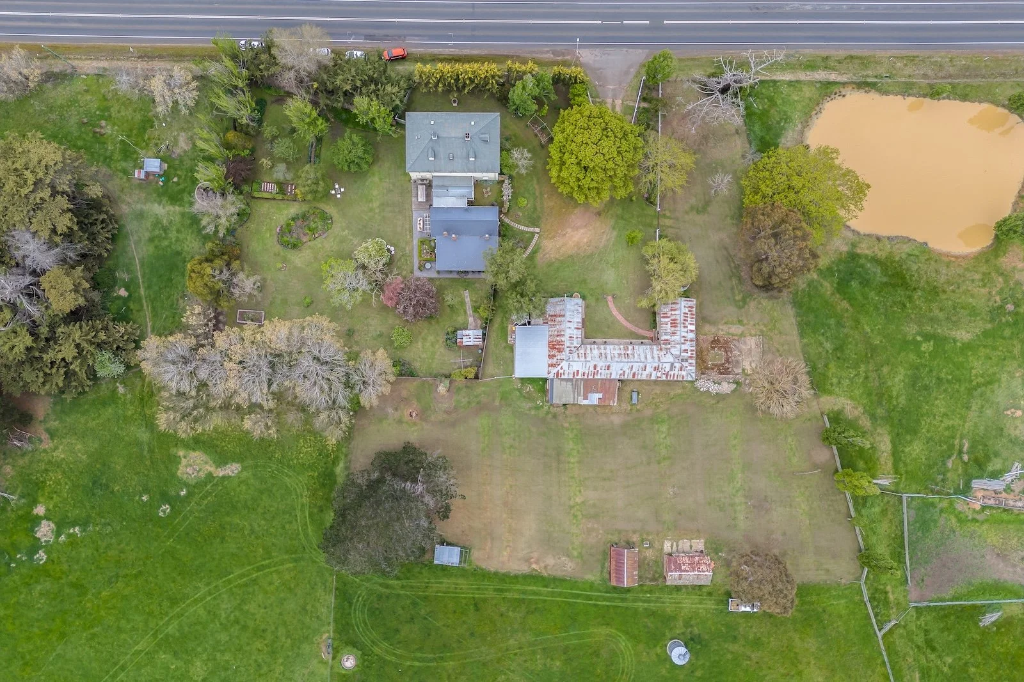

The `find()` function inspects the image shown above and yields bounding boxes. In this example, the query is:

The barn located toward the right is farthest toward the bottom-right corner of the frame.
[665,553,713,585]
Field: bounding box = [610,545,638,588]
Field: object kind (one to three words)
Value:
shed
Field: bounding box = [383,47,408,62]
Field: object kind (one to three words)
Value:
car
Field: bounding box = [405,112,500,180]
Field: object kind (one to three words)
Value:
house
